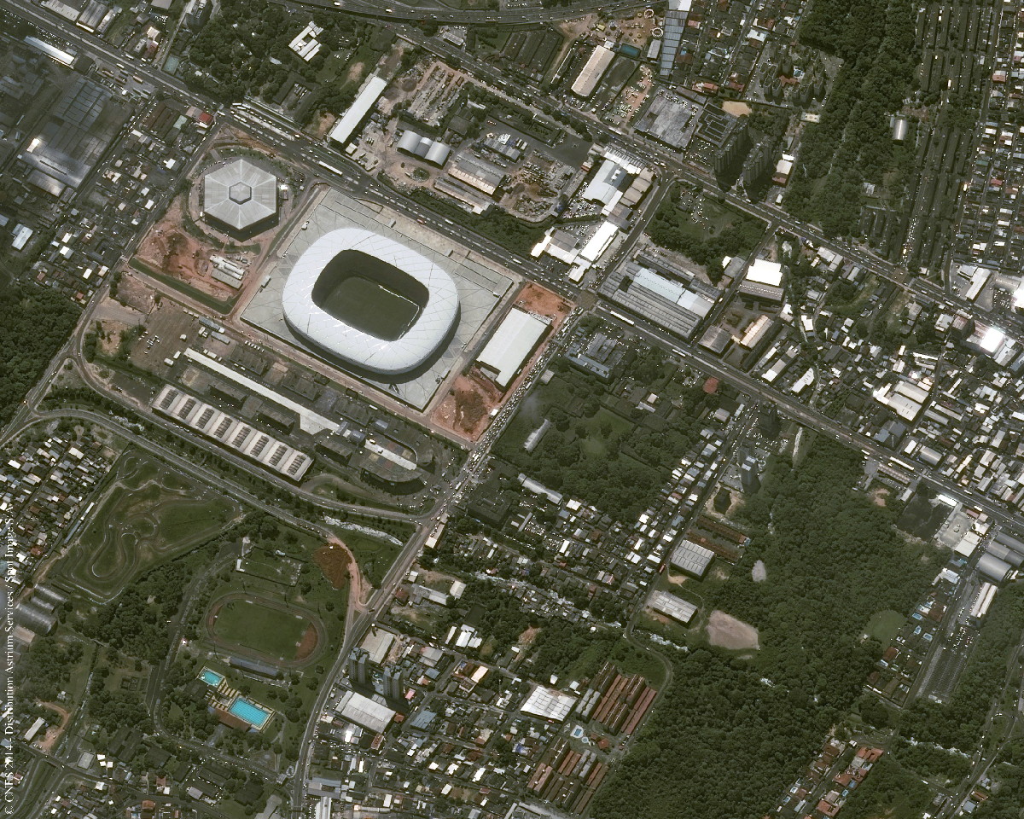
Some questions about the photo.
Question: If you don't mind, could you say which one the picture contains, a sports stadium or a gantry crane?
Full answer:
Of the two, only a sports stadium appears.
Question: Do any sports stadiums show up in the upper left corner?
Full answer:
Yes, there is a sports stadium in the upper left corner.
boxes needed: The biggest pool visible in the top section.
[620,44,641,58]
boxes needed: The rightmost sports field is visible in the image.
[326,275,419,340]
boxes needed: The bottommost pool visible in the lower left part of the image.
[226,695,276,731]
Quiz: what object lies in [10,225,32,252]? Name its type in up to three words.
building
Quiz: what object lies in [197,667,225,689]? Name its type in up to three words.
swimming pool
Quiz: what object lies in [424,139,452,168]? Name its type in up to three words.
hangar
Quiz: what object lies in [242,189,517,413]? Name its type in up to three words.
stadium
